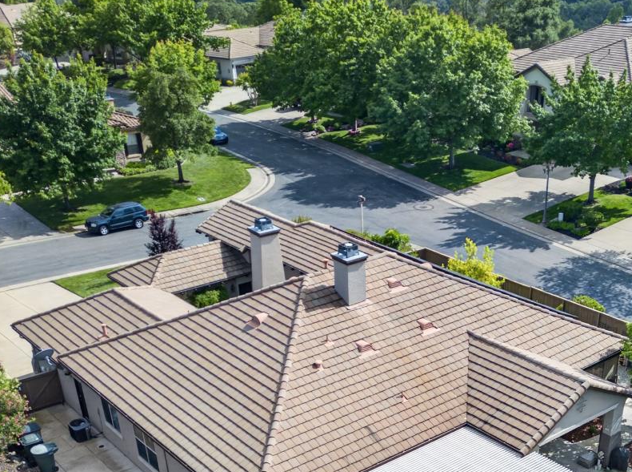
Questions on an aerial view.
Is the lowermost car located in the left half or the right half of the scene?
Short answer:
left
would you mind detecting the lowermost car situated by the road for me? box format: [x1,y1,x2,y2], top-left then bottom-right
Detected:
[81,201,145,235]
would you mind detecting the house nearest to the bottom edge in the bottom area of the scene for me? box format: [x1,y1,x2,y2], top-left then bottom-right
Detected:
[11,197,632,472]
